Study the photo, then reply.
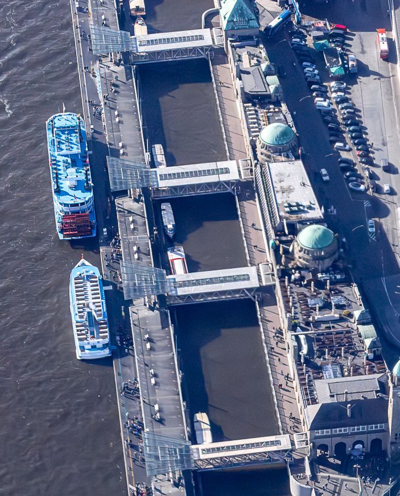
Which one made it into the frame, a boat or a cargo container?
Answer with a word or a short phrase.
boat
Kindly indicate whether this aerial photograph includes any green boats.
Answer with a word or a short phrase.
No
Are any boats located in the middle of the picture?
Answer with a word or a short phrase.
Yes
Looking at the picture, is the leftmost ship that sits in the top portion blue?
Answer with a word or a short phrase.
Yes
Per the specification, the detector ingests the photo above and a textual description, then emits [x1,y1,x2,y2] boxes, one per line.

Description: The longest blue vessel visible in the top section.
[46,106,96,245]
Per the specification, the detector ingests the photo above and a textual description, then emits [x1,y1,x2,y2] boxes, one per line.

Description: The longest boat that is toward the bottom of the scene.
[69,254,112,361]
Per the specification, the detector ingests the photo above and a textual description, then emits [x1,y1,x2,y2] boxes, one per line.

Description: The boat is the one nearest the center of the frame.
[166,245,189,275]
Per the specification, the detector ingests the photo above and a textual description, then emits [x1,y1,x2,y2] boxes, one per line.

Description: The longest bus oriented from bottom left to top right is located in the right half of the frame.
[260,9,289,35]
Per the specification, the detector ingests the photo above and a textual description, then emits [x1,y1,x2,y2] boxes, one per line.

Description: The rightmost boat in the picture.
[192,409,215,445]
